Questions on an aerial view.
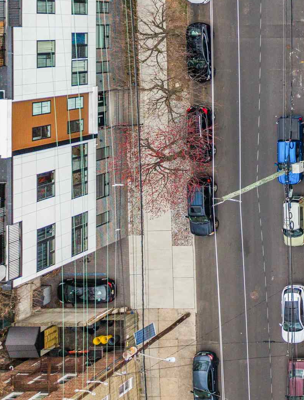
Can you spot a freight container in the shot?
No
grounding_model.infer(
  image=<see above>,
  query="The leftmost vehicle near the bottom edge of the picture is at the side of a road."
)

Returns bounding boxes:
[190,349,223,400]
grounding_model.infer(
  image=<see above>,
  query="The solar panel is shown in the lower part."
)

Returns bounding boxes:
[134,323,156,341]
